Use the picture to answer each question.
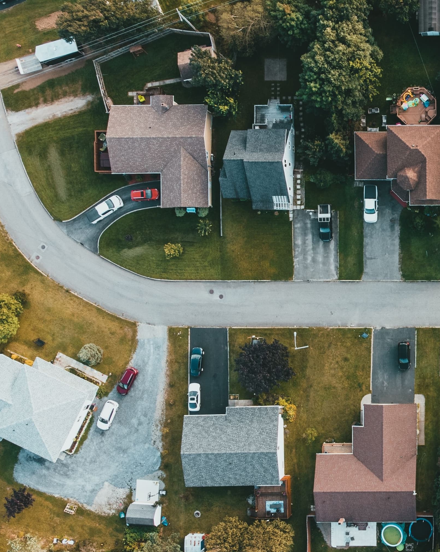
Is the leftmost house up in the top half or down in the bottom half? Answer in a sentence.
The leftmost house sits in the bottom half of the picture.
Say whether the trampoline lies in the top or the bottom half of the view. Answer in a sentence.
The trampoline is in the bottom half of the image.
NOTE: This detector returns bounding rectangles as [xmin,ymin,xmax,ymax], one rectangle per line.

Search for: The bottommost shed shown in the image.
[184,530,210,552]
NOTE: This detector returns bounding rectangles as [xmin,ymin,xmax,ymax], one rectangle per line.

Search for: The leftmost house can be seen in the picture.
[0,351,105,463]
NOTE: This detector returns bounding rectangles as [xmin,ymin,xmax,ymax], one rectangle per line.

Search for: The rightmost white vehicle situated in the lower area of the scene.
[186,381,203,412]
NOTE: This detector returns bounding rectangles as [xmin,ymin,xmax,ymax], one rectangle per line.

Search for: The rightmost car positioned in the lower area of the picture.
[396,341,411,370]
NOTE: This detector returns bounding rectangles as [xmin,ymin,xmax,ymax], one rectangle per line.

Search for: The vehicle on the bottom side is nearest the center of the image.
[188,346,205,377]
